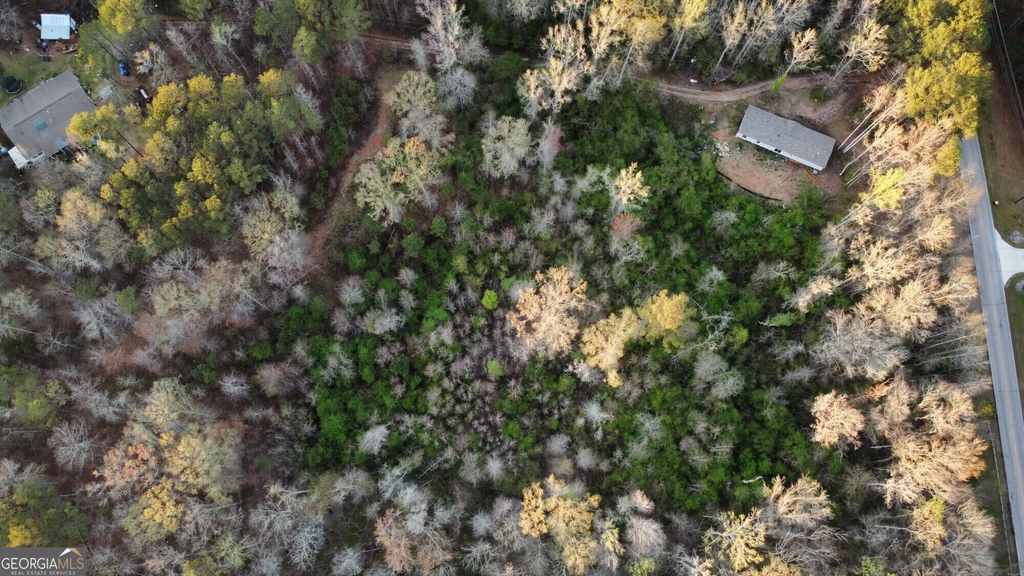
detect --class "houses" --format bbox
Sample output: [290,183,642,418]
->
[0,68,106,172]
[736,104,835,170]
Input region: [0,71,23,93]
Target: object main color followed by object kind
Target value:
black trampoline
